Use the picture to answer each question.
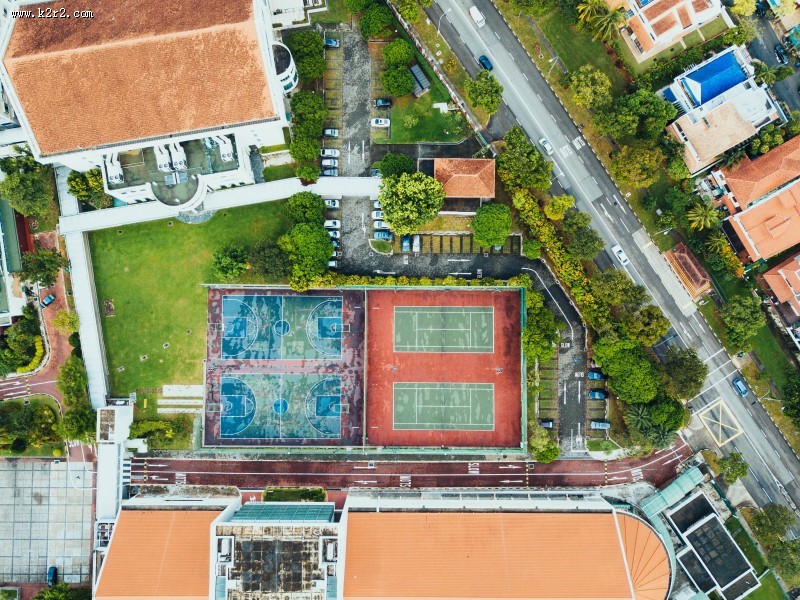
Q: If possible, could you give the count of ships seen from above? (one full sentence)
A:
I count no ships.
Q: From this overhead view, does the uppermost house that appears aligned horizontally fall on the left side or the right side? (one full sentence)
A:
You can find the uppermost house that appears aligned horizontally on the right side of the picture.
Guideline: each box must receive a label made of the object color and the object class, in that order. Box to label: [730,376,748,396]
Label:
blue car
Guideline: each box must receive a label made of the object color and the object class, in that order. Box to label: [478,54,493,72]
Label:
blue car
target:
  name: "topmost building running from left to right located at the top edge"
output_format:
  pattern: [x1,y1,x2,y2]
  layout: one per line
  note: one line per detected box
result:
[599,0,721,57]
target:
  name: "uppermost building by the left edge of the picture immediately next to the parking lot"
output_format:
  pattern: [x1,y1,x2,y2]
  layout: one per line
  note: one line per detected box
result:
[0,0,288,170]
